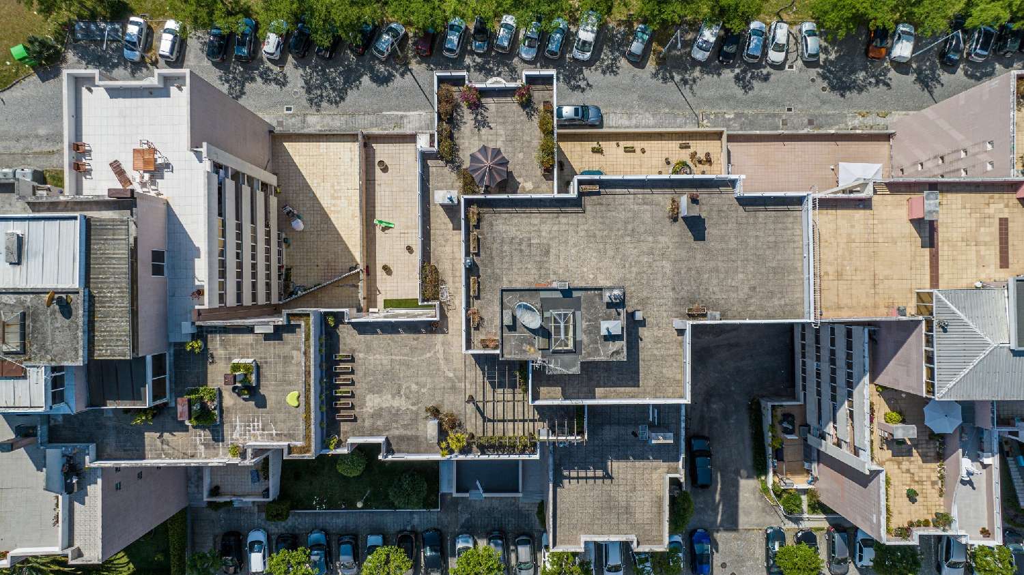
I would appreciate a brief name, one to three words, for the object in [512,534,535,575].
car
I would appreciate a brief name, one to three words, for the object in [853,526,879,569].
car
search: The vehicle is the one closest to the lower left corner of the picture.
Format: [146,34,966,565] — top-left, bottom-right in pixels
[219,528,244,575]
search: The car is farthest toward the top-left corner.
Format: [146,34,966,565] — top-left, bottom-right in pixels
[121,16,151,64]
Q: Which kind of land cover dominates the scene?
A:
buildings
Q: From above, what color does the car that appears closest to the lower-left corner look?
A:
black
